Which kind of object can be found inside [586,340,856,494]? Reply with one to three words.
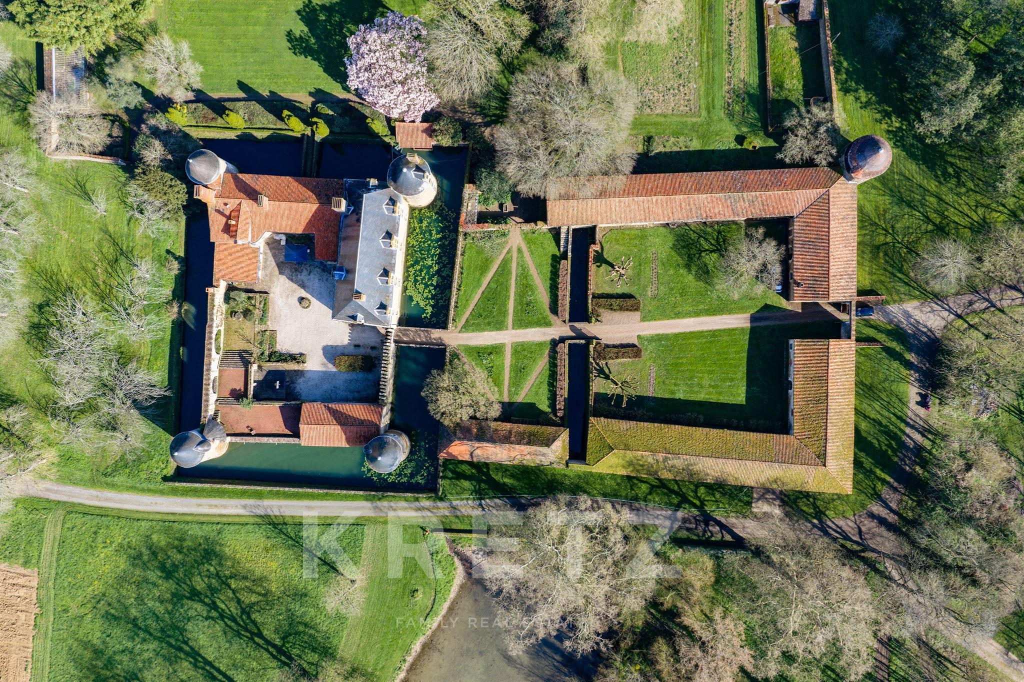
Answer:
shed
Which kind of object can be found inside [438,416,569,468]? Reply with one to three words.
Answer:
shed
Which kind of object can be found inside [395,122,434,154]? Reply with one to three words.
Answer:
building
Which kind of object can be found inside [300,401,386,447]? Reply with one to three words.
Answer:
barn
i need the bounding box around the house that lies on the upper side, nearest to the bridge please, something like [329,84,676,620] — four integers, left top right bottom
[330,178,410,328]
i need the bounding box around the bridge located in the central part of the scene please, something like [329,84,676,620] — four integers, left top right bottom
[396,326,448,347]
